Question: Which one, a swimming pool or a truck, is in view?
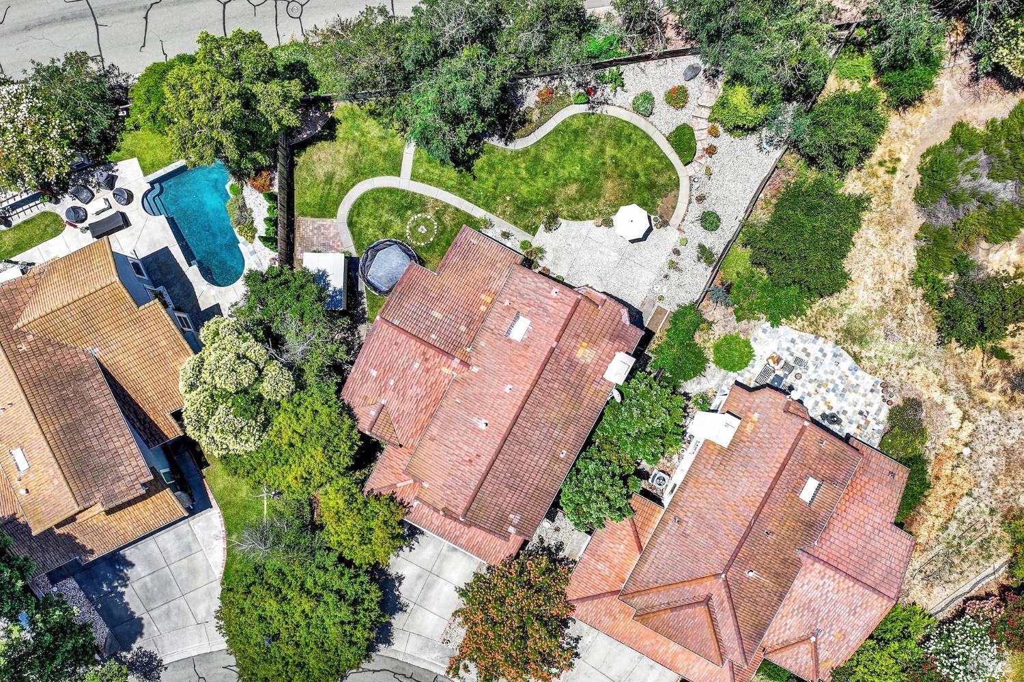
swimming pool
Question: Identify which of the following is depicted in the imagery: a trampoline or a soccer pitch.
trampoline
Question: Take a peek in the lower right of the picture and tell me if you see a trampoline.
No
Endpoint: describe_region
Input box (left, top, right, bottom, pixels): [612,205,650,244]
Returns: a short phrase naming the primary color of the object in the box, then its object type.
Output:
white umbrella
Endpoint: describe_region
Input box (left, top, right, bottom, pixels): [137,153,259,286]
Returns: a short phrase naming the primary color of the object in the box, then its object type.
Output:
blue swimming pool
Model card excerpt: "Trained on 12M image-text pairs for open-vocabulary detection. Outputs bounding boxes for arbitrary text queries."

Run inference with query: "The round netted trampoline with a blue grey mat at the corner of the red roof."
[354,236,417,297]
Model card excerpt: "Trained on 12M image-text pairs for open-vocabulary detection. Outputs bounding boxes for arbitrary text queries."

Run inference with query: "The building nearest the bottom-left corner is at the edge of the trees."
[0,234,205,590]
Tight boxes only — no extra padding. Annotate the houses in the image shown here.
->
[0,234,205,590]
[338,224,646,574]
[555,384,918,682]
